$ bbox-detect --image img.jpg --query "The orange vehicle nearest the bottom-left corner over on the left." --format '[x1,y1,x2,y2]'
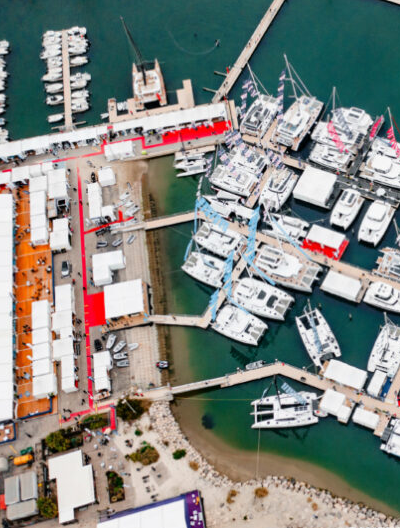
[10,452,34,467]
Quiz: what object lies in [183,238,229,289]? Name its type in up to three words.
boat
